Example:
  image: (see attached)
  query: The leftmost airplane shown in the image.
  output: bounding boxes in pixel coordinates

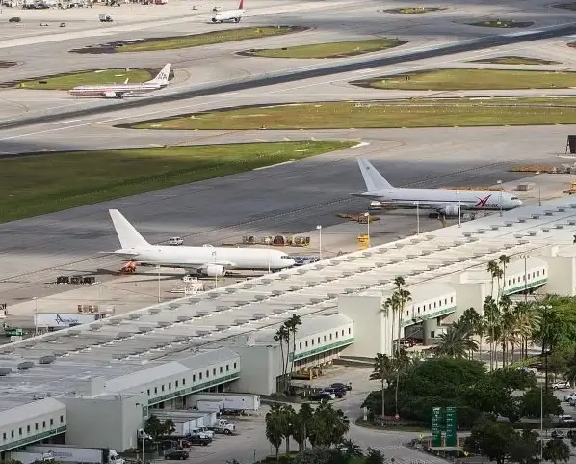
[71,70,169,100]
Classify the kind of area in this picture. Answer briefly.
airport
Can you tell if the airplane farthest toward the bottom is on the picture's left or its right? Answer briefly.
left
